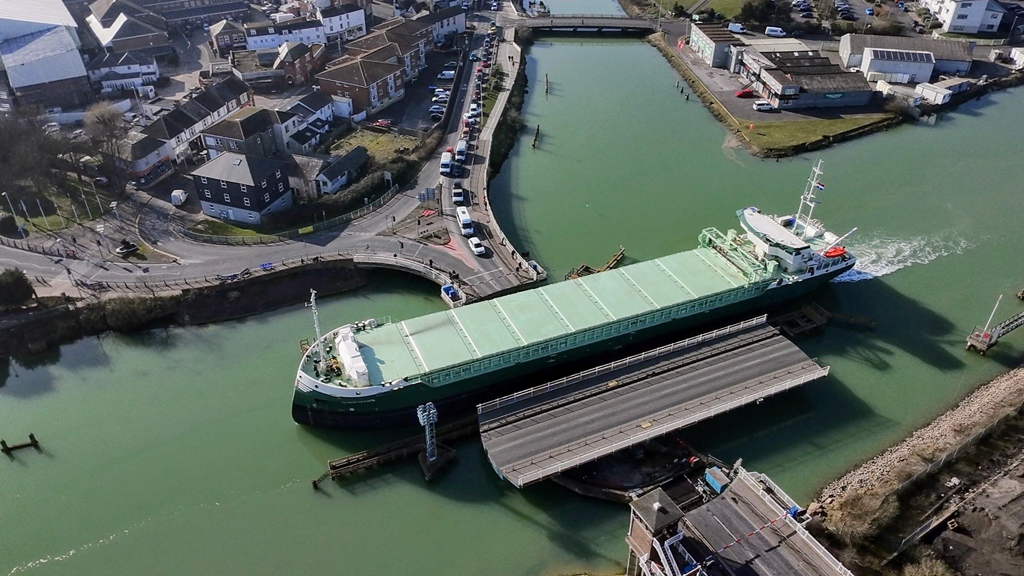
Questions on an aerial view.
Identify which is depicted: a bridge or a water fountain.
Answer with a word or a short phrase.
bridge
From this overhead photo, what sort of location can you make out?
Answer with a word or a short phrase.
port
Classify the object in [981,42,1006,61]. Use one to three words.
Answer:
shed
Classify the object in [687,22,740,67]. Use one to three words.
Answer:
building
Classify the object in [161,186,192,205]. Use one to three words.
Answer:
vehicle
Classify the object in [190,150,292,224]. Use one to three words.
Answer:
building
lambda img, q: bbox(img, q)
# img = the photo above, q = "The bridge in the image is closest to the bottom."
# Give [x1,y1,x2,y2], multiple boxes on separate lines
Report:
[476,315,831,492]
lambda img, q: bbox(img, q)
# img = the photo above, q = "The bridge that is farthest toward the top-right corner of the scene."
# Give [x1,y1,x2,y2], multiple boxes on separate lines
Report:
[516,14,676,35]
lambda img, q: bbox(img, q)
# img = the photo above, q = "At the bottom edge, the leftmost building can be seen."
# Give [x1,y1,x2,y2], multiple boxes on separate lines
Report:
[621,489,684,576]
